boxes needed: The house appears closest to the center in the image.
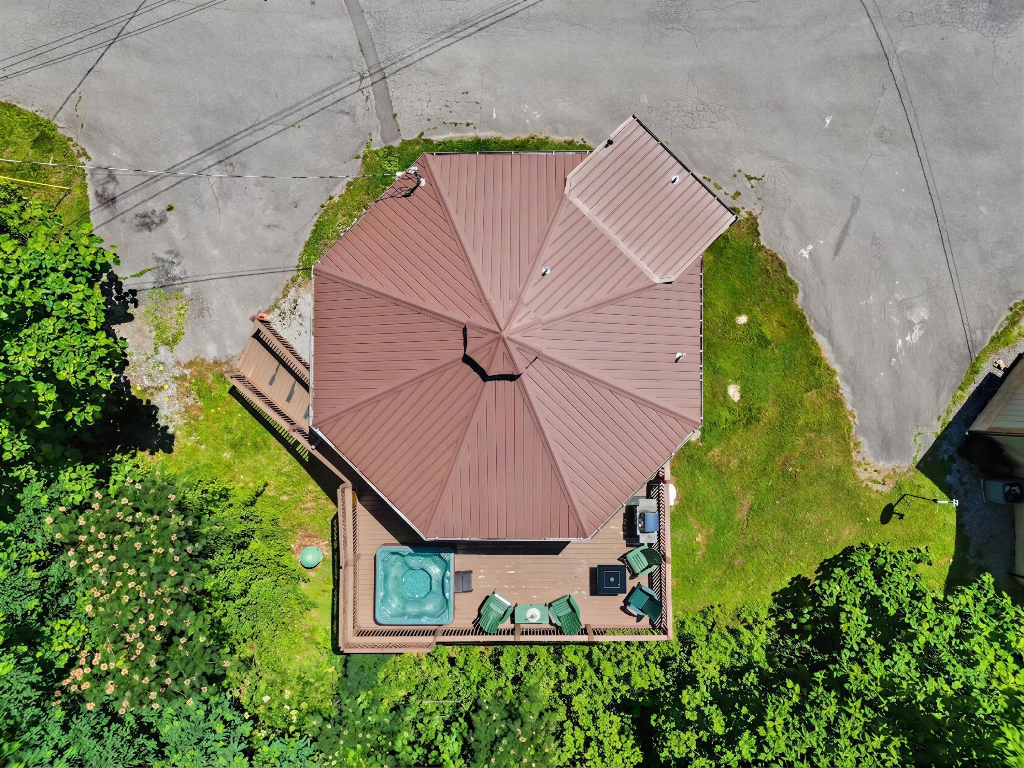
[310,113,738,541]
